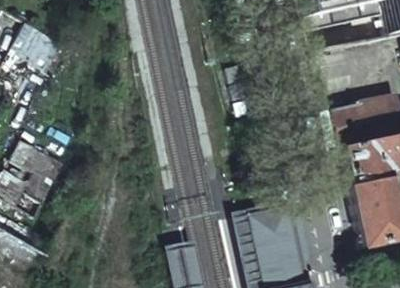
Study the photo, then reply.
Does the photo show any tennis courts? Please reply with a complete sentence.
No, I find no tennis court anywhere in the image.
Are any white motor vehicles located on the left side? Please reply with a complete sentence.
Yes, on the left side there is a white motor vehicle.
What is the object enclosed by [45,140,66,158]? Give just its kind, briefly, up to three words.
vehicle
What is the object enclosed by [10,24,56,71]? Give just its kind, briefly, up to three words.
shed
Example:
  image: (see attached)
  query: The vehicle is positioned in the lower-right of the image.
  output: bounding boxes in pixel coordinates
[330,208,344,232]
